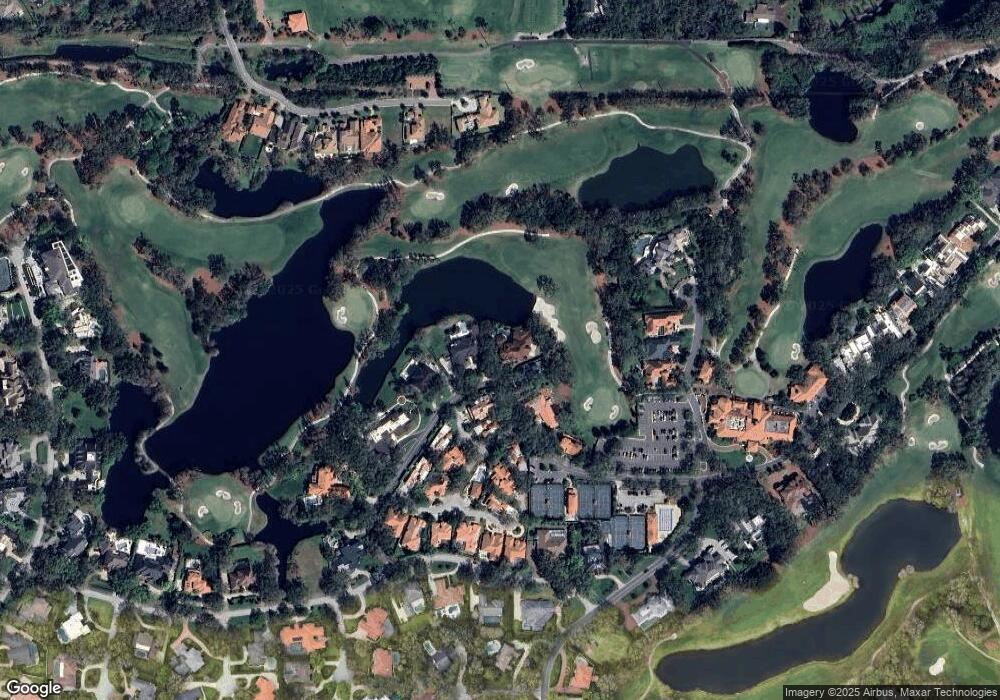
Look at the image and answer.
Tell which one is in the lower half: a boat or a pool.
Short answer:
pool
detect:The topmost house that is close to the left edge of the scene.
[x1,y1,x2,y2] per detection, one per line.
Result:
[38,245,75,297]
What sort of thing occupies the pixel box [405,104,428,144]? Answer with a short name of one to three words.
house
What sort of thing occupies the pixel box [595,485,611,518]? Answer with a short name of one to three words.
tennis court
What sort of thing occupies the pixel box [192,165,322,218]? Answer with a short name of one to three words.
pond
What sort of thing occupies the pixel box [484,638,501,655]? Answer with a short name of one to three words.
swimming pool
